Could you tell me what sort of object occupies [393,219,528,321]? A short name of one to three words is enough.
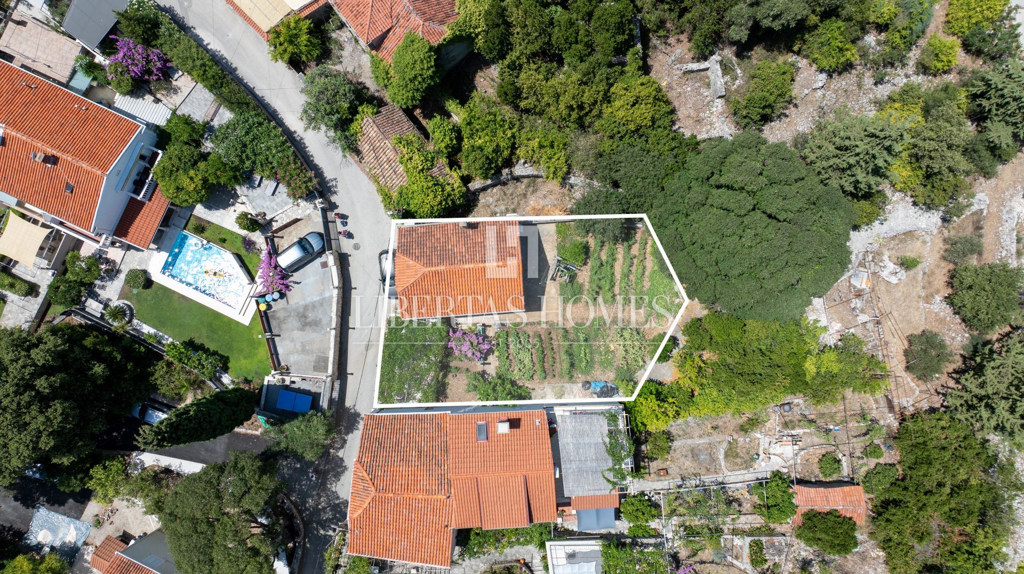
house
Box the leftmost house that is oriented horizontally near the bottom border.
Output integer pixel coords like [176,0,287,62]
[90,529,181,574]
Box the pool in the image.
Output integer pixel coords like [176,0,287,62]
[159,229,256,316]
